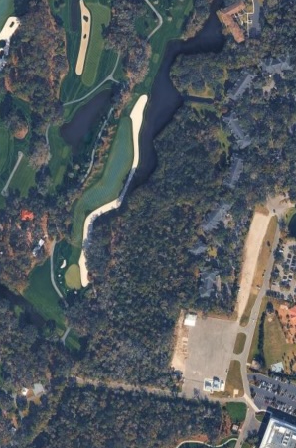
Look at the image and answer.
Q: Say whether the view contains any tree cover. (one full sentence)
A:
Yes, there is tree cover in the image.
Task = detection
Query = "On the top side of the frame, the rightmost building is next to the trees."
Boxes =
[260,58,293,77]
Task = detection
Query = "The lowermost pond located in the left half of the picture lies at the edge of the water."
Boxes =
[59,88,113,156]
